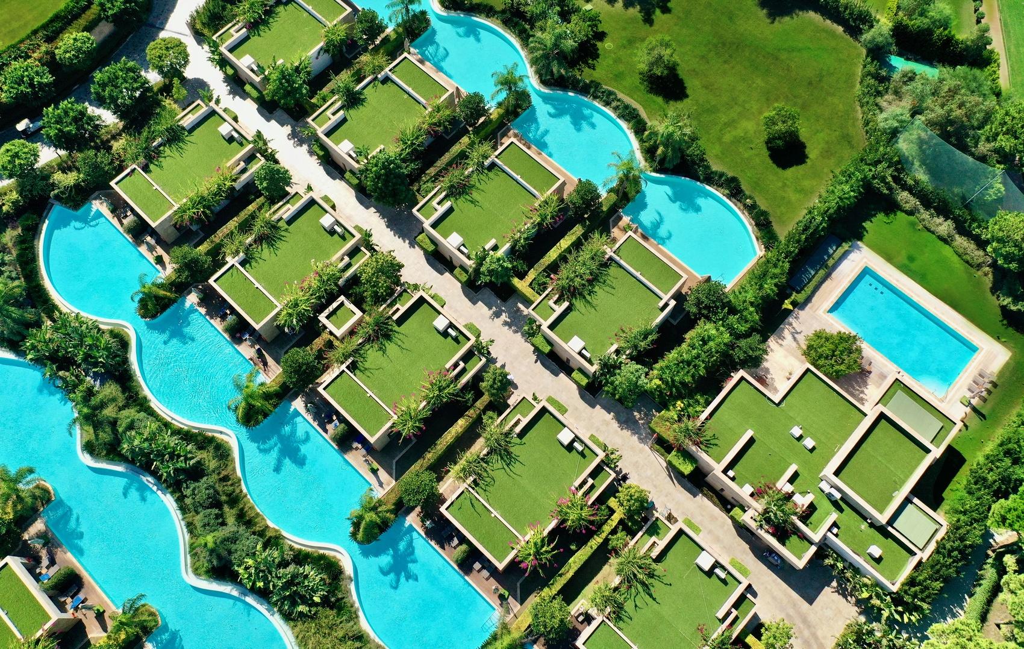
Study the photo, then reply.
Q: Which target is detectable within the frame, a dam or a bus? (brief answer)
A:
dam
